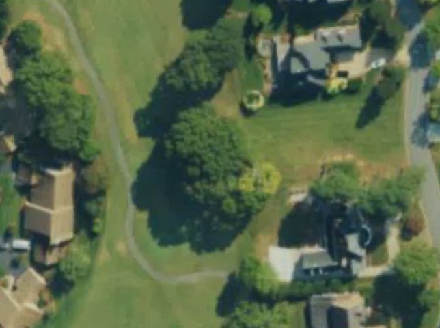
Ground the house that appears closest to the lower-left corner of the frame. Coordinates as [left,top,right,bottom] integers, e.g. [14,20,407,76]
[0,260,49,328]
